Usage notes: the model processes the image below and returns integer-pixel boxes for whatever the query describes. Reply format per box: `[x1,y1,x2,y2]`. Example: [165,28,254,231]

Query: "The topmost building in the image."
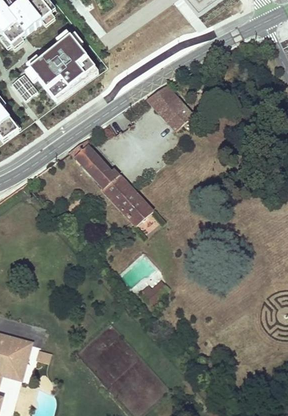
[0,0,57,52]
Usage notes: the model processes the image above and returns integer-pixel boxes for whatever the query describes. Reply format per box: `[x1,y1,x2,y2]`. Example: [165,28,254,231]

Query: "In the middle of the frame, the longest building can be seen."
[70,142,160,235]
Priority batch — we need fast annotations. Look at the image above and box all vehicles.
[113,122,120,132]
[160,128,170,136]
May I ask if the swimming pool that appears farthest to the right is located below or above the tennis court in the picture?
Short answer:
above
